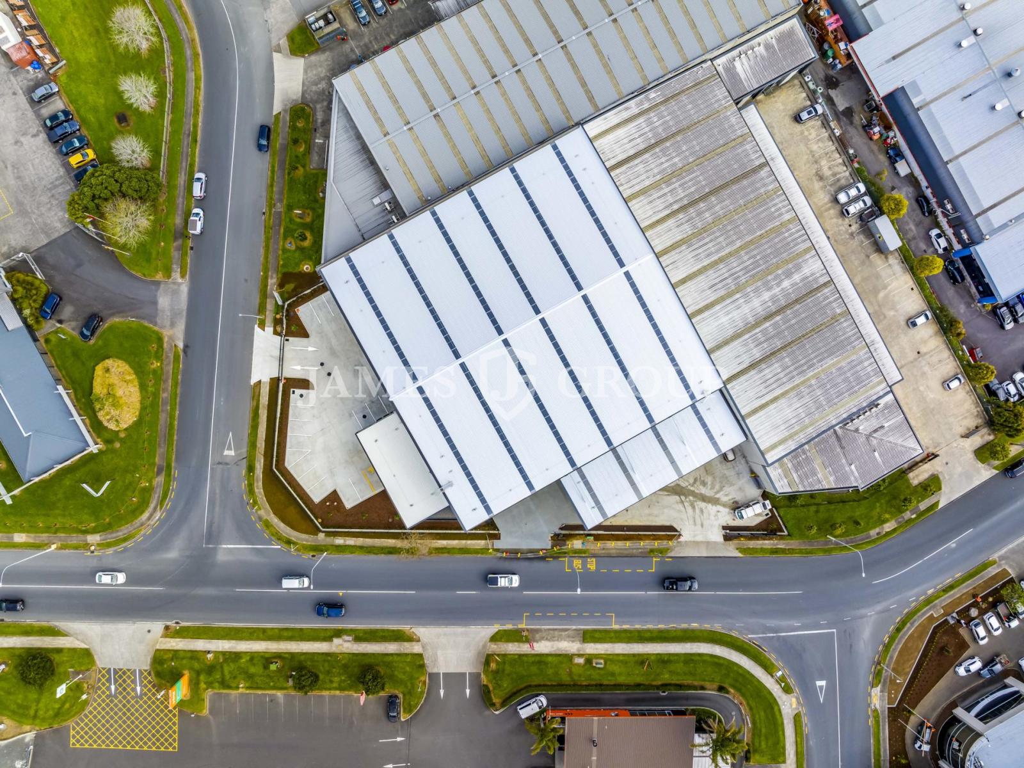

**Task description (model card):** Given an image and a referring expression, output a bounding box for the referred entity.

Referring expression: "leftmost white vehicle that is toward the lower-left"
[95,571,127,585]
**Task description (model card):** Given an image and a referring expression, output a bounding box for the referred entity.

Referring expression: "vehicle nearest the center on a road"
[487,573,519,588]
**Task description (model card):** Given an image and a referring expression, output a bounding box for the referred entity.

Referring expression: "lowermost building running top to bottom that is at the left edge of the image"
[0,268,100,482]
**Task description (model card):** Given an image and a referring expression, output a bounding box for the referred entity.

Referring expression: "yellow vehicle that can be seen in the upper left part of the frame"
[68,149,98,168]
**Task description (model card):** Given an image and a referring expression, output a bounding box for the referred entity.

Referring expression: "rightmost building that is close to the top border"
[832,0,1024,249]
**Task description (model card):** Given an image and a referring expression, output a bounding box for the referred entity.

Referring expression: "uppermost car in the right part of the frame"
[794,104,824,124]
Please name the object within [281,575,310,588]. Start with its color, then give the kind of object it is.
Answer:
white vehicle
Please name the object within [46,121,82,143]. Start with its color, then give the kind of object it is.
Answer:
blue truck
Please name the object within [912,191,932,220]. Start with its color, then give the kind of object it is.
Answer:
black car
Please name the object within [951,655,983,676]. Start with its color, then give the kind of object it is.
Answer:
white car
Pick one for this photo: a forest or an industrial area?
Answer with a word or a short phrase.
industrial area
